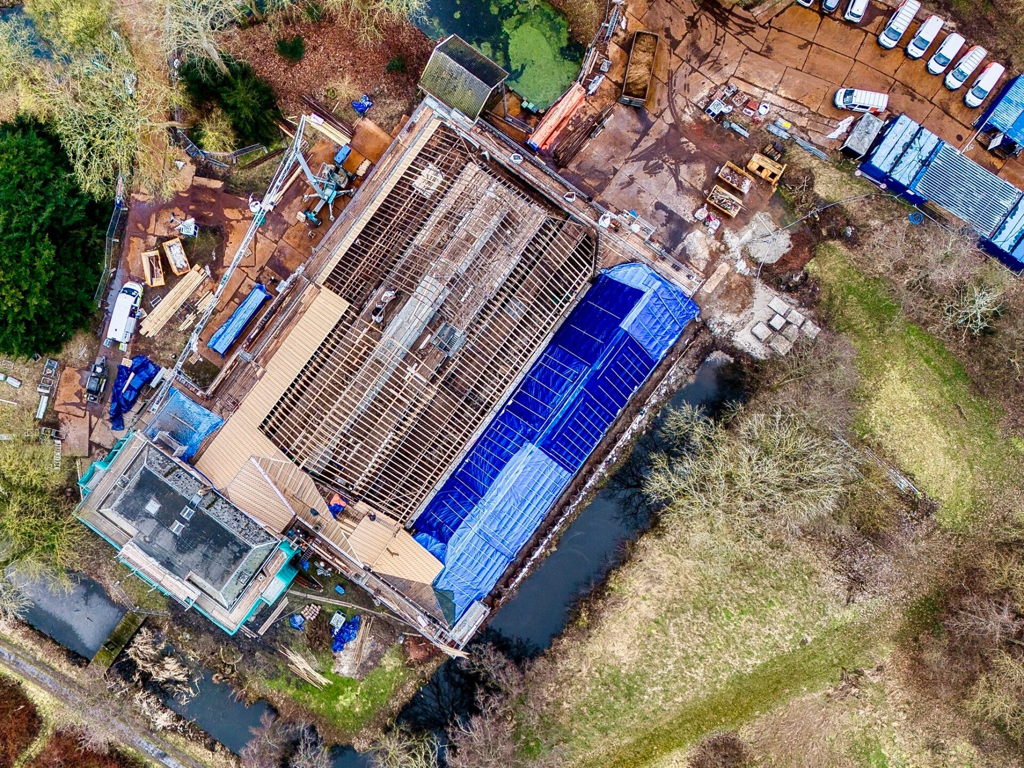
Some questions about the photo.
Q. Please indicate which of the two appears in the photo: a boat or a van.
van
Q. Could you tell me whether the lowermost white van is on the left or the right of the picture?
left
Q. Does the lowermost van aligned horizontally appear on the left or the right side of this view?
right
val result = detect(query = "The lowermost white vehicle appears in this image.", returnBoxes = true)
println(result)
[109,281,148,353]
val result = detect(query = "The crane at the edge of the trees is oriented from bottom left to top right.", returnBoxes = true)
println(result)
[151,115,358,412]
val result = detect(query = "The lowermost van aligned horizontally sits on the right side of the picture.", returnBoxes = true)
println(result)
[826,85,891,119]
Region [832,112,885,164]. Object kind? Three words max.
shed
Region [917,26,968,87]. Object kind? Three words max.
van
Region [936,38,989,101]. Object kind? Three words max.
van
